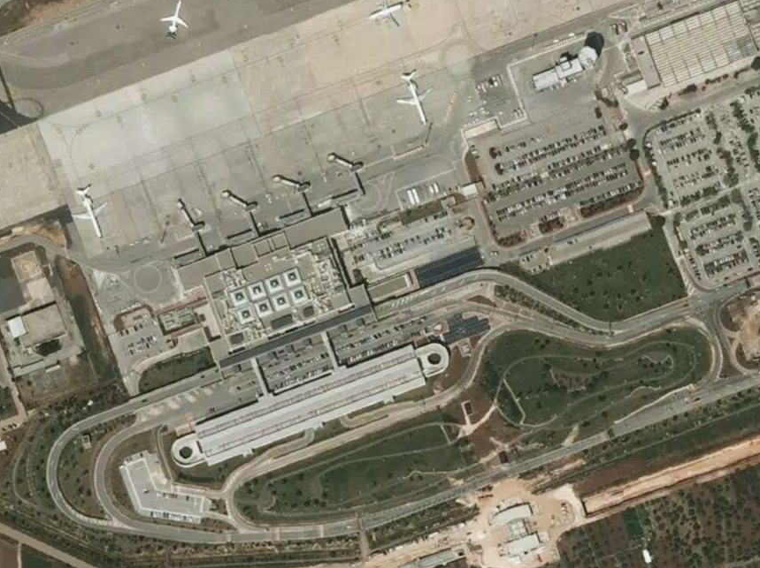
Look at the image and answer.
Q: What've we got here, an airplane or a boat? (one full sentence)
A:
Of the two, only an airplane appears.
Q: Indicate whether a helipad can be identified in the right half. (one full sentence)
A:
No, looking in the right half, there is no helipad.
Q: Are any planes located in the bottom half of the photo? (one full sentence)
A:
No, I see no plane in the bottom half of the photo.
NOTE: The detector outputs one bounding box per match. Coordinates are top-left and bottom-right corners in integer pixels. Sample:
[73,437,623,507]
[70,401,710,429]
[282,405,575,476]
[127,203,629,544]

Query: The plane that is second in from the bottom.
[395,68,432,123]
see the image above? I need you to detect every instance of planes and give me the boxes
[71,183,108,237]
[395,68,432,123]
[369,0,411,27]
[161,0,189,35]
